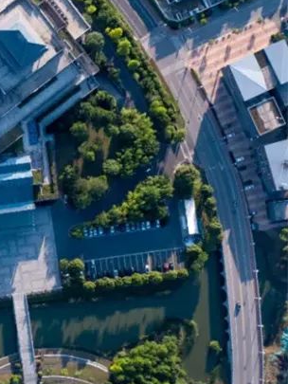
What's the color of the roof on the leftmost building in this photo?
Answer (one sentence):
The color of the roof on the leftmost building is blue.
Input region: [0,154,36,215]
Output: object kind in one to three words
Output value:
building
